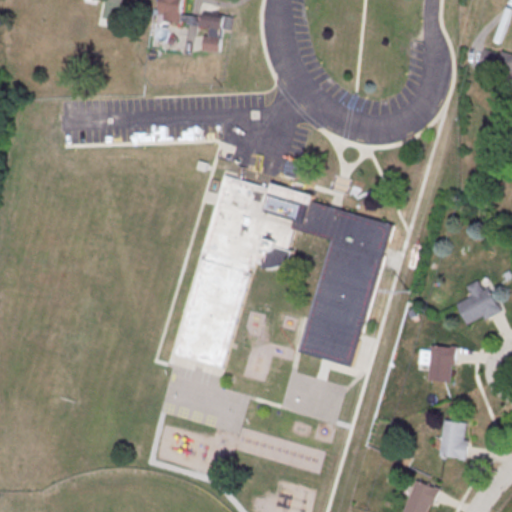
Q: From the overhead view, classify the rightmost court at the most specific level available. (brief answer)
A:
basketball court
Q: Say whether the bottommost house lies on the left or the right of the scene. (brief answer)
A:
right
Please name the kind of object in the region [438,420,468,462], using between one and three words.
house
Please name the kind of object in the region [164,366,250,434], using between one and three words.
sports court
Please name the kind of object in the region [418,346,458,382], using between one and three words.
house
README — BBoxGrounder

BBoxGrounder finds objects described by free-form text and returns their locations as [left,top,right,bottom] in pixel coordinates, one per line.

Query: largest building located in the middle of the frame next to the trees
[173,168,394,368]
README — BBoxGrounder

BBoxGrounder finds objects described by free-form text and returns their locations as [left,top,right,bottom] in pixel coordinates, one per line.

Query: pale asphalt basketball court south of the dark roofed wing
[282,371,347,423]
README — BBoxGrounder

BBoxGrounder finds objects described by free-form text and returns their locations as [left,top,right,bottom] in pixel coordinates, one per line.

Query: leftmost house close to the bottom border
[404,481,439,512]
